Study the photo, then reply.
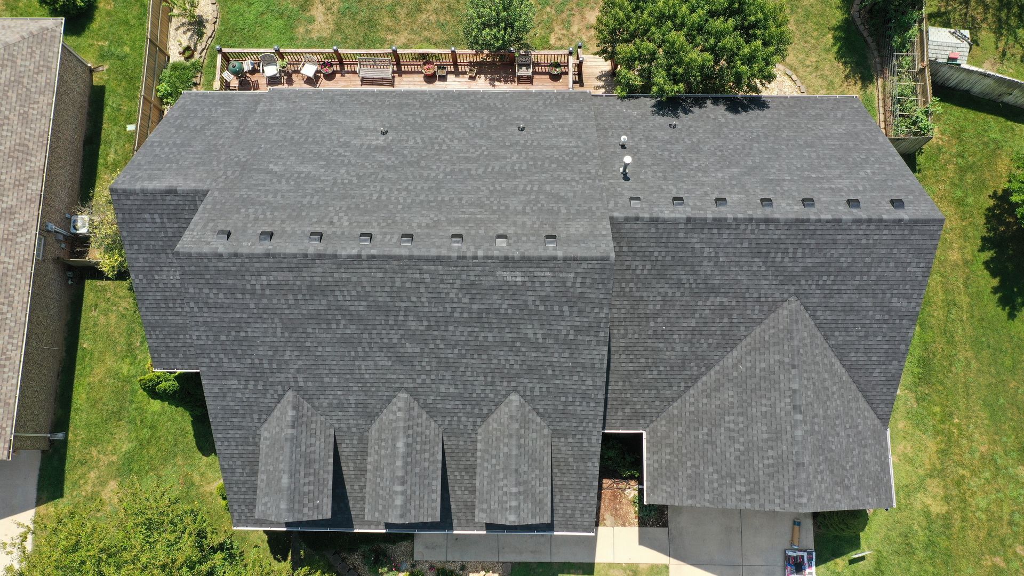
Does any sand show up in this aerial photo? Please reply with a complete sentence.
No, the picture contains no sand.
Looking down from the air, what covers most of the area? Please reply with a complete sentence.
What you mostly see from above here is buildings.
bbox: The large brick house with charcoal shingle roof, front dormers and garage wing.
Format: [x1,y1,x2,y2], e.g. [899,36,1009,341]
[111,88,946,537]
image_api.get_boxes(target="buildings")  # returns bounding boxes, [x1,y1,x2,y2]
[111,88,946,537]
[0,15,99,458]
[928,27,970,67]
